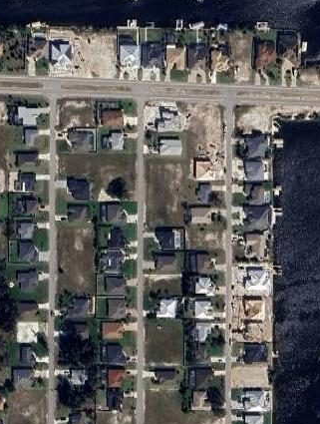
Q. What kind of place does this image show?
residential area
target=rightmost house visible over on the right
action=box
[280,47,300,70]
